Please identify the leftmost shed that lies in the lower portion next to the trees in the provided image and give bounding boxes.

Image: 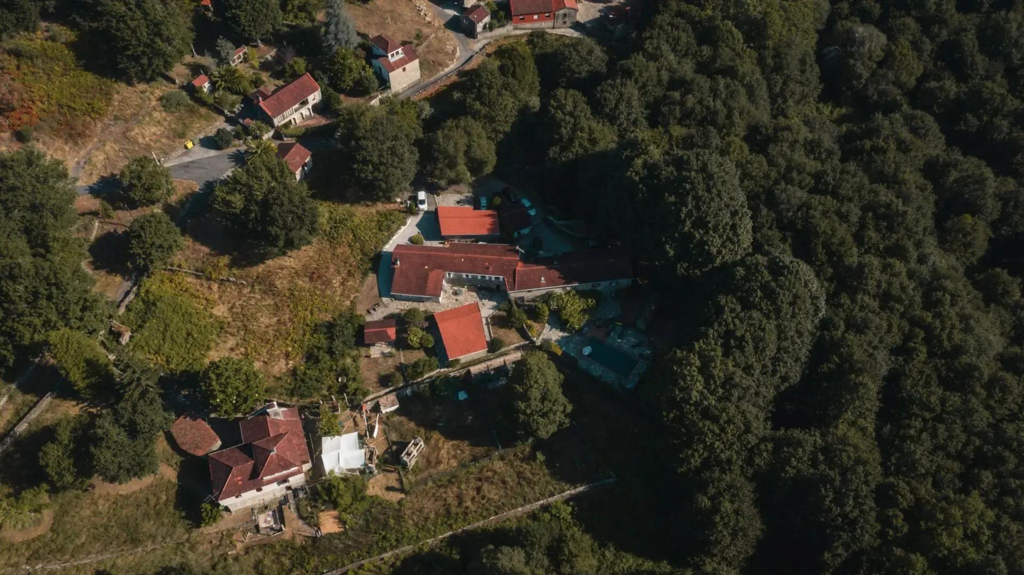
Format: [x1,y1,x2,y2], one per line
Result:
[171,414,223,460]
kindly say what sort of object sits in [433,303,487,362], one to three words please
barn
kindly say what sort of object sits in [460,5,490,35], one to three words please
house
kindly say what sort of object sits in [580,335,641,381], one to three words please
swimming pool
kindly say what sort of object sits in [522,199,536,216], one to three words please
car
